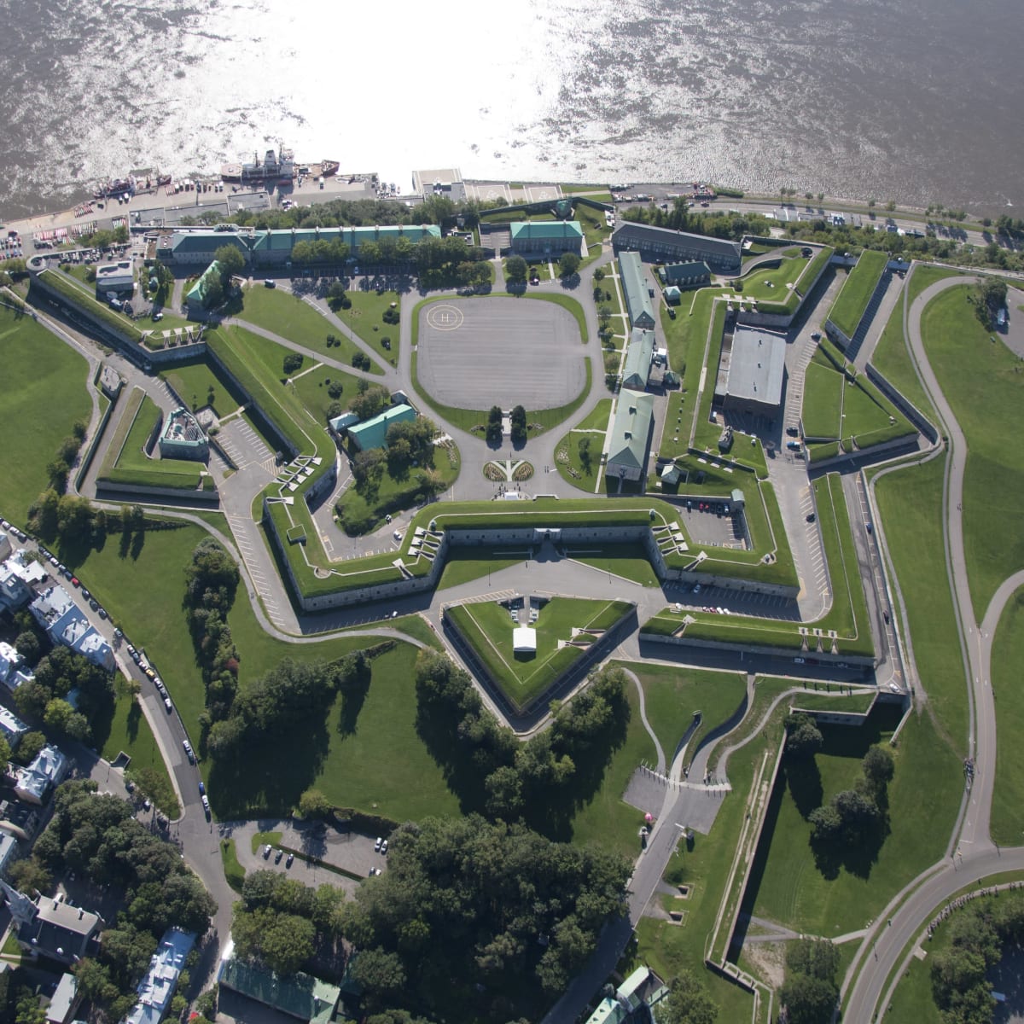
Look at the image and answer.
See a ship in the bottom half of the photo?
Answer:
No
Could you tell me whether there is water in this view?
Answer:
Yes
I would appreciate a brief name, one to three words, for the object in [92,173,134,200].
vessel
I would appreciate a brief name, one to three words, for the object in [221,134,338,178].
ship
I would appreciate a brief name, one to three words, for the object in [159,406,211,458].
building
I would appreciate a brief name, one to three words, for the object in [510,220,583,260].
house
